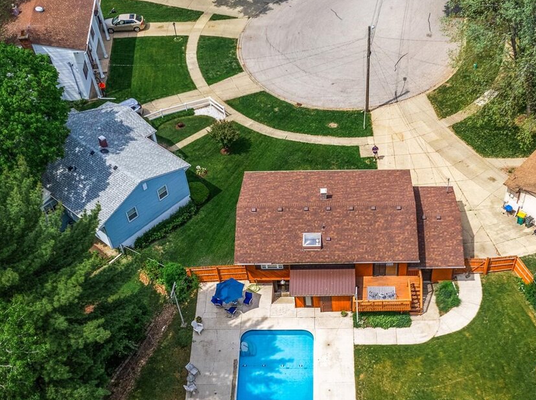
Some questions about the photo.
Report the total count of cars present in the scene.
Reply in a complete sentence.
The count of cars comes to 2.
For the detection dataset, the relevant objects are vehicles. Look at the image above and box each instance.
[104,14,149,35]
[109,92,150,116]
